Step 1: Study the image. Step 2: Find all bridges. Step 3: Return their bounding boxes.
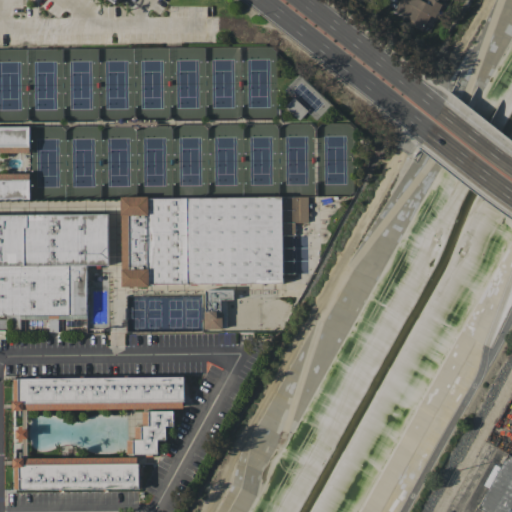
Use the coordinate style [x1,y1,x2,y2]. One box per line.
[422,88,512,218]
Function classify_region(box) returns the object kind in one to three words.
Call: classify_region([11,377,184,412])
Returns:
building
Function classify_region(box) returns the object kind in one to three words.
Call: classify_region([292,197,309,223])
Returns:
building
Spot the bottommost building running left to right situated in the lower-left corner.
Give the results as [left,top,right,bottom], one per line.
[11,458,140,492]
